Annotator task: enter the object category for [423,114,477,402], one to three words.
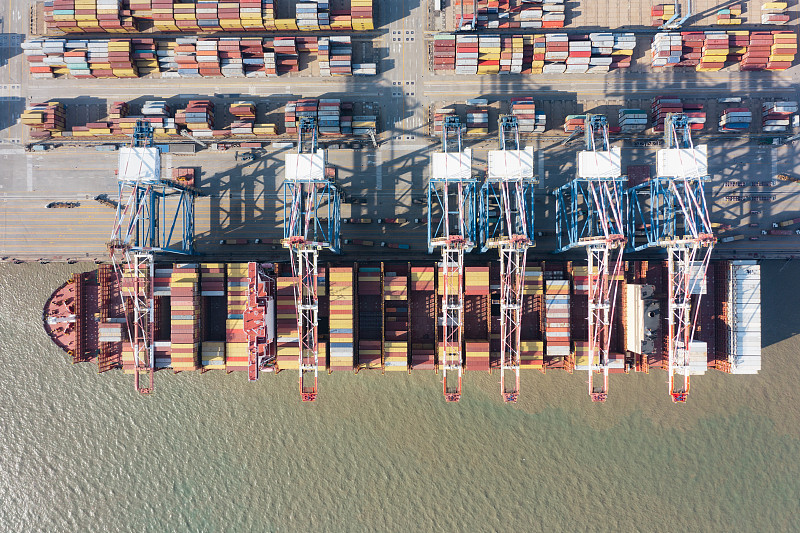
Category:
container crane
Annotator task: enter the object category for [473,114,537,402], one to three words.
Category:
container crane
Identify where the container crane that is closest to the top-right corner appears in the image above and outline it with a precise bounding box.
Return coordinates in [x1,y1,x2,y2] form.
[655,0,696,30]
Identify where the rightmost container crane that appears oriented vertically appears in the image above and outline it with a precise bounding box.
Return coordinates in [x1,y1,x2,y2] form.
[619,112,718,402]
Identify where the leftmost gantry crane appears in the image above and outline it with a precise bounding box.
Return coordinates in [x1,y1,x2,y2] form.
[105,119,204,395]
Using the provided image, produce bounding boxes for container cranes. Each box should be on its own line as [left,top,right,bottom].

[548,113,627,402]
[423,114,477,402]
[655,0,696,30]
[105,119,204,395]
[473,114,537,402]
[281,116,345,402]
[457,0,479,31]
[619,112,718,402]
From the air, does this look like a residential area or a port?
port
